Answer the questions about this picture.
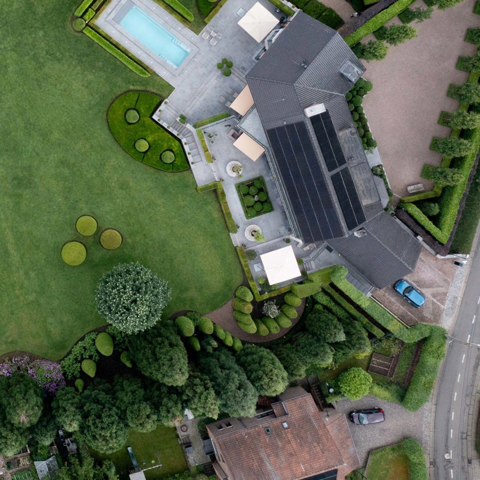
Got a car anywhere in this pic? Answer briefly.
Yes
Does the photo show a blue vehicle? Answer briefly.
Yes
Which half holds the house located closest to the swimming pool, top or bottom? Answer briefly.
top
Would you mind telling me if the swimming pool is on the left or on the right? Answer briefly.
left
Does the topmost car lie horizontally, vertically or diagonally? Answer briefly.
diagonally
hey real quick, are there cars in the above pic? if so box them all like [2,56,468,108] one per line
[349,407,386,426]
[393,279,430,309]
